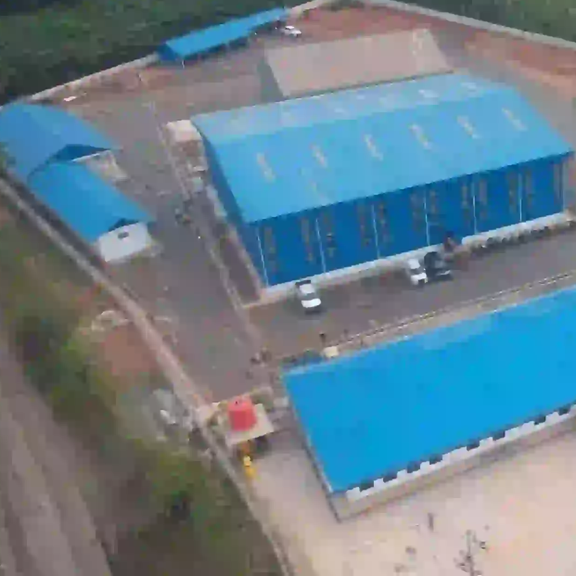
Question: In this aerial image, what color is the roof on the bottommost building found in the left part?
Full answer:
From above, the roof of the bottommost building found in the left part looks blue.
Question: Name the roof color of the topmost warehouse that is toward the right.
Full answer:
The roof over the topmost warehouse that is toward the right appears blue.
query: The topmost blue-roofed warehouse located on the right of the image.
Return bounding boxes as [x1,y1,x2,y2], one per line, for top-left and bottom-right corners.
[191,73,576,298]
